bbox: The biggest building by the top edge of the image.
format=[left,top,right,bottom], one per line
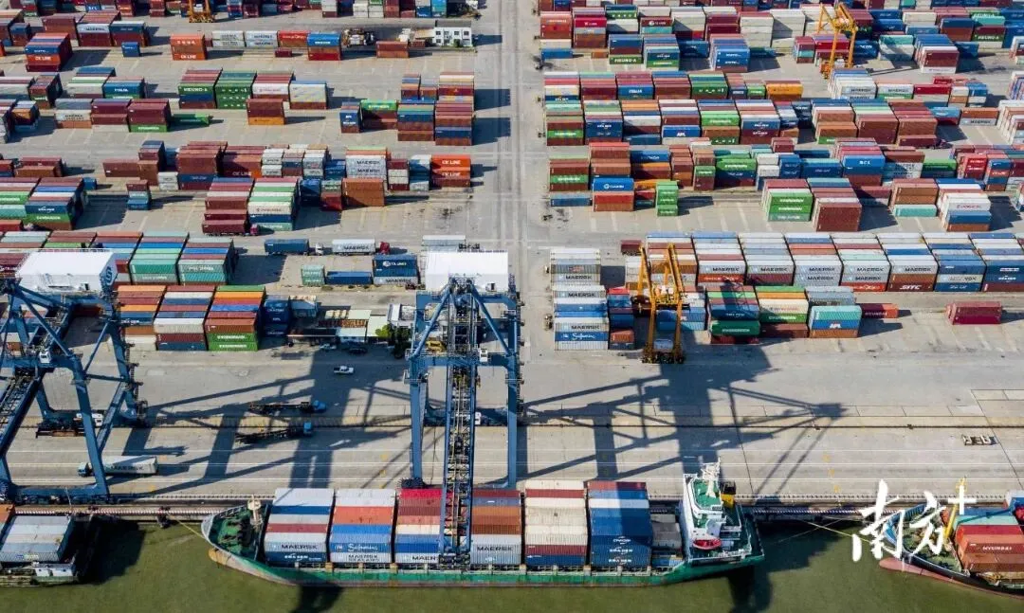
[432,20,477,48]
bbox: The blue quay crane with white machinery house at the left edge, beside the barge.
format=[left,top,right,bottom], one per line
[0,246,150,501]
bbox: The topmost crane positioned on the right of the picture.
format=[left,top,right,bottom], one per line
[815,1,862,72]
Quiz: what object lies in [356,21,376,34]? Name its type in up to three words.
vehicle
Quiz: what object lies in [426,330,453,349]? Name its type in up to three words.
work vehicle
